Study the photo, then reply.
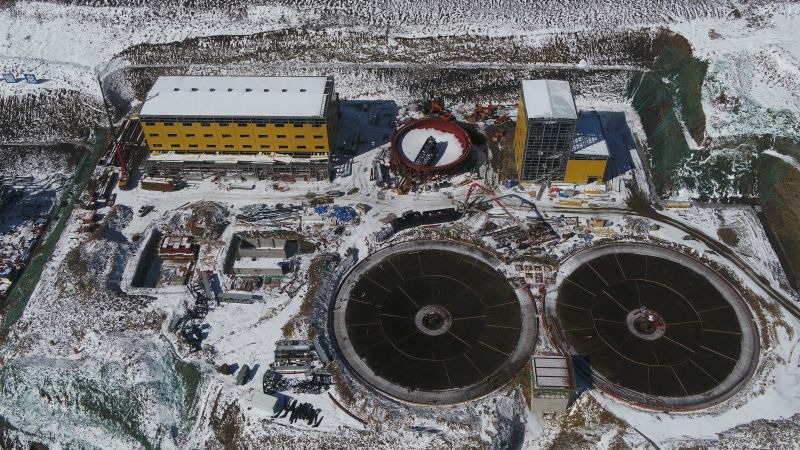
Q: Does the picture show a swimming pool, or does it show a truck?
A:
truck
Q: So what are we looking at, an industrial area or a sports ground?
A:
industrial area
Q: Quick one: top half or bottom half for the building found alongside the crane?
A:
top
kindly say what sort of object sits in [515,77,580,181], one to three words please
building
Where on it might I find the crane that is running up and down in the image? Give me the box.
[97,76,134,187]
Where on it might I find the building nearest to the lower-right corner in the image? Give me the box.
[528,354,584,420]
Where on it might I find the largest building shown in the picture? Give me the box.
[138,75,338,184]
